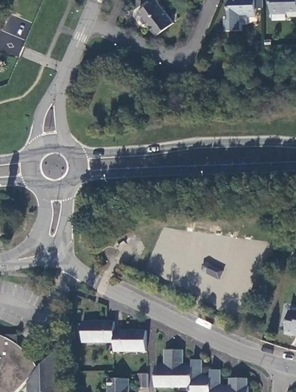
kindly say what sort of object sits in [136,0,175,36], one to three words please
house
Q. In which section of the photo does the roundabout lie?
left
